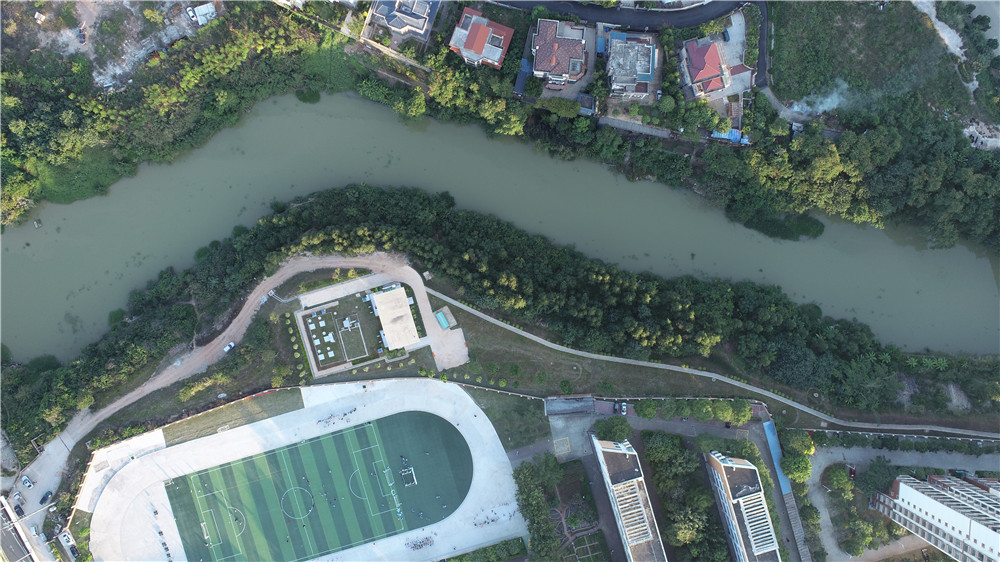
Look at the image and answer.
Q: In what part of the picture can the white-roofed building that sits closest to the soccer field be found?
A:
center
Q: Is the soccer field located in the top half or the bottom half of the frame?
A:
bottom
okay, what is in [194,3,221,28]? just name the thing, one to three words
shed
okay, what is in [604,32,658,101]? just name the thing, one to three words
house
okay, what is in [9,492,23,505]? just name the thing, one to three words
vehicle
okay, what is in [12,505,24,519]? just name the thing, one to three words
vehicle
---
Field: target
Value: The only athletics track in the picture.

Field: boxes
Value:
[77,379,528,562]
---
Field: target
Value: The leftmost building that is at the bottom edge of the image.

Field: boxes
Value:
[593,435,668,562]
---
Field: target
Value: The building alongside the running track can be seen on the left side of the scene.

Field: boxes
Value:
[369,285,421,351]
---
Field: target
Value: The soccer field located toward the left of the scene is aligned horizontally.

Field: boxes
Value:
[165,411,473,562]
